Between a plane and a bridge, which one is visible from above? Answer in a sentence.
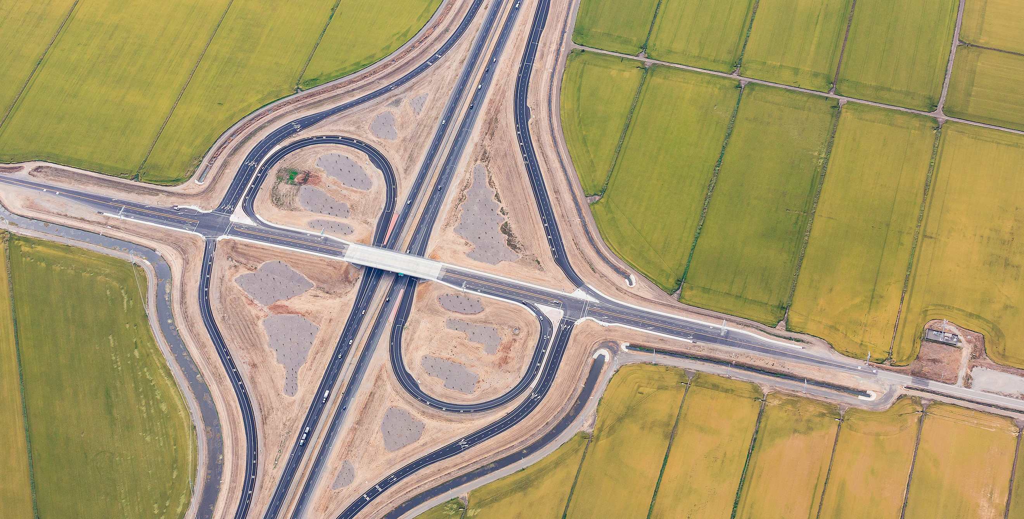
Looking from above, you can make out a bridge.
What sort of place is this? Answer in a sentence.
What you see here is farmland.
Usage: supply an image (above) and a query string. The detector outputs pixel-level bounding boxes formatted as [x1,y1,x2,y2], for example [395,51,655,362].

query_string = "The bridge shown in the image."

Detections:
[340,242,446,283]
